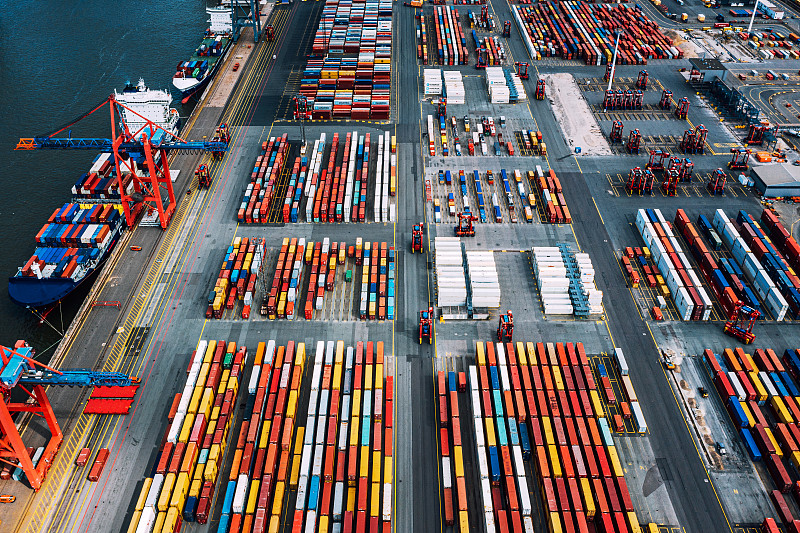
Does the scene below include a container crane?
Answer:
Yes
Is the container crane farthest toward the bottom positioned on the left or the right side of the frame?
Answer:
left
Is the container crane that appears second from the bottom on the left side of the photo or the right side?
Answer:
left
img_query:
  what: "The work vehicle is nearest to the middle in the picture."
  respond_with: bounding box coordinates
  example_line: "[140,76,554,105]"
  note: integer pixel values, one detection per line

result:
[412,219,425,252]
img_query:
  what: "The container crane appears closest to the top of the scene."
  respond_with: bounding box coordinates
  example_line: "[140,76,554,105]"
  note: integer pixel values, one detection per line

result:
[227,0,262,42]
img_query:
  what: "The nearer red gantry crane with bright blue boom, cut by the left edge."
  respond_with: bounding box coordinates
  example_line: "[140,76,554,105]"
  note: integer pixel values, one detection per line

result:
[0,341,134,492]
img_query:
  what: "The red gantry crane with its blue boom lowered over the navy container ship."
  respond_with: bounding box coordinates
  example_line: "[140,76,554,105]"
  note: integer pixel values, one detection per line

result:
[10,91,230,230]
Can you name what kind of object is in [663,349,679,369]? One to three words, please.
work vehicle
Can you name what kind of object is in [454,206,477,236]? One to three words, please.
work vehicle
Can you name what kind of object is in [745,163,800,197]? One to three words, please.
shed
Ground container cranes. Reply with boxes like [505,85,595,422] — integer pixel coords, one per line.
[227,0,262,42]
[10,91,230,230]
[0,341,134,492]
